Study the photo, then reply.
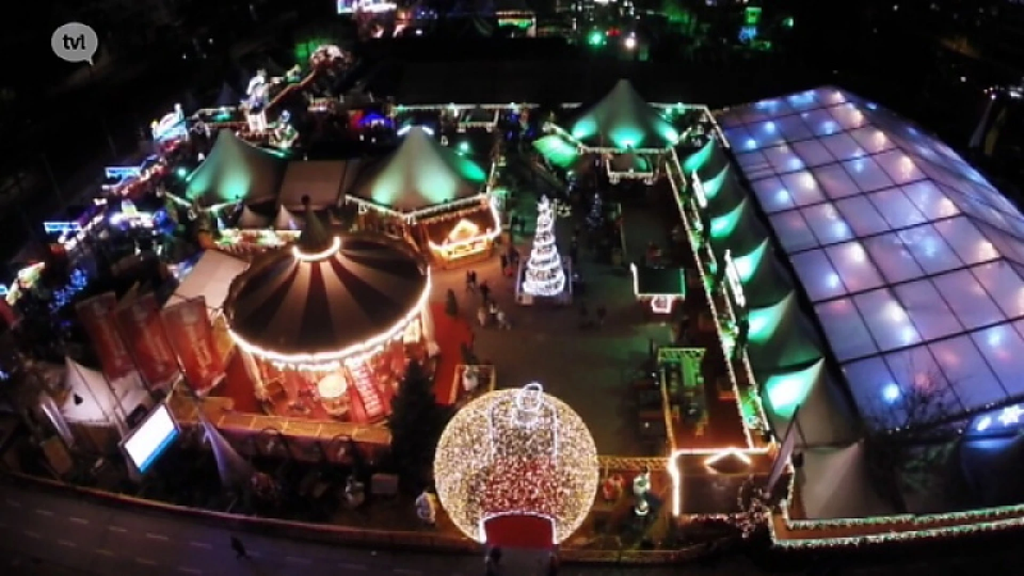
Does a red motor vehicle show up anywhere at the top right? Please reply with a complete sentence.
No, looking at the top right, there is no red motor vehicle.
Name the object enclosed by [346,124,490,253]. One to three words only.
tent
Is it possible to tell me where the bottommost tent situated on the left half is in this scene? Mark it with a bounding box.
[57,363,156,451]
